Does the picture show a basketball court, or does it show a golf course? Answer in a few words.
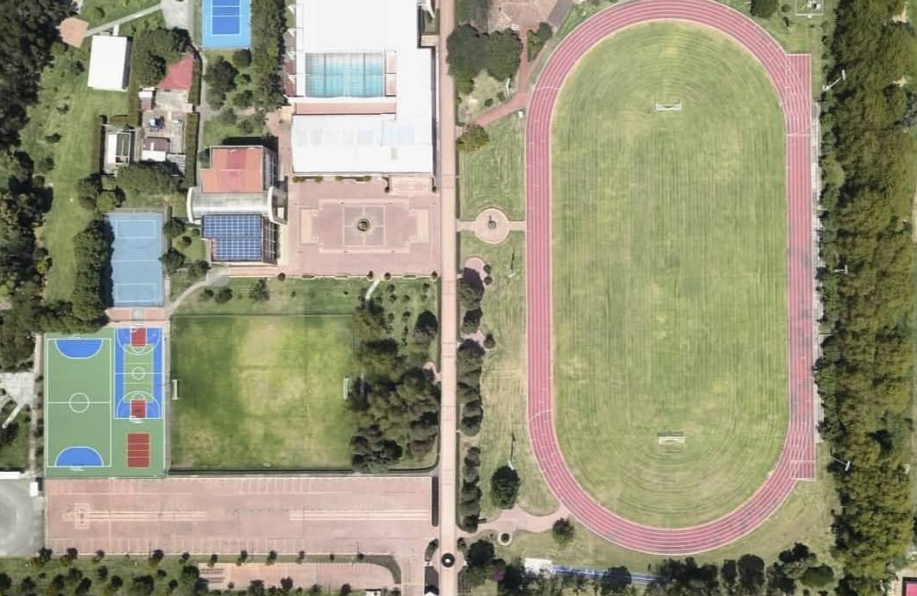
basketball court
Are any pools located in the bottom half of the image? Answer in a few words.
No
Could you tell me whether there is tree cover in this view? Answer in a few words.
Yes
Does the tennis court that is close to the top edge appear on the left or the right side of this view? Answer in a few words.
left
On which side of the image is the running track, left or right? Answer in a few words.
right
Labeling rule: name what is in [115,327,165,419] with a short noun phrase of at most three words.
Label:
basketball court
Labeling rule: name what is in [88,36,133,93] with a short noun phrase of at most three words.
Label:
shed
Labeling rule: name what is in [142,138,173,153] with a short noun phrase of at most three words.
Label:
house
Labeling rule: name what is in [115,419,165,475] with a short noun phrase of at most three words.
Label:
sports court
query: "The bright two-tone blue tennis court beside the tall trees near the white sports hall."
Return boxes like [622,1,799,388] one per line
[201,0,252,48]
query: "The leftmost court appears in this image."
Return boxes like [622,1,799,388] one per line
[44,327,115,477]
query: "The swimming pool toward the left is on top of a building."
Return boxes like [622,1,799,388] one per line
[308,57,386,98]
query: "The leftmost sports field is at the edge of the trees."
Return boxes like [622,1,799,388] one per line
[170,316,354,470]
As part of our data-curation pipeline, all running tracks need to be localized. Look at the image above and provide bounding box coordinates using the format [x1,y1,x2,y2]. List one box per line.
[527,0,814,554]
